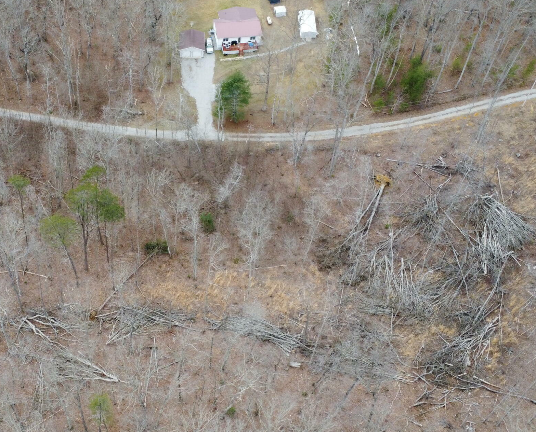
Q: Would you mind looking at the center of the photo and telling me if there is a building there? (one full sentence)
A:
No, I can find no building at the center of the photo.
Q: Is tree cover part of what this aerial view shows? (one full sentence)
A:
Yes, tree cover can be seen from above here.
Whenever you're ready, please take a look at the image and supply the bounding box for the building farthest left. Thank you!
[176,25,205,57]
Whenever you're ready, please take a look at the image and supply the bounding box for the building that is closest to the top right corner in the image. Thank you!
[300,2,320,41]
